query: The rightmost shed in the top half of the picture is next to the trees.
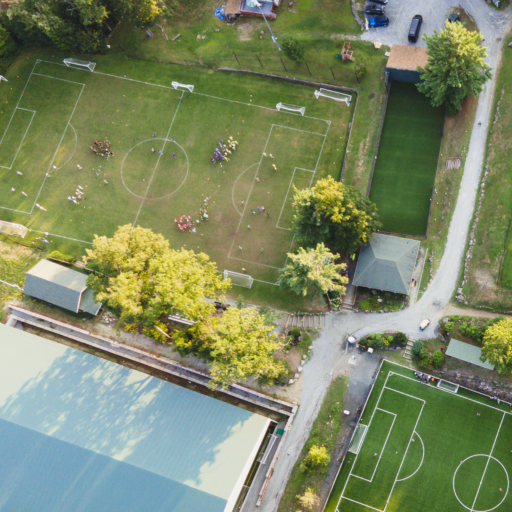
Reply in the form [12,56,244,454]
[387,44,428,83]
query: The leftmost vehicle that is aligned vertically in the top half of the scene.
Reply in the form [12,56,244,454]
[408,15,422,39]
